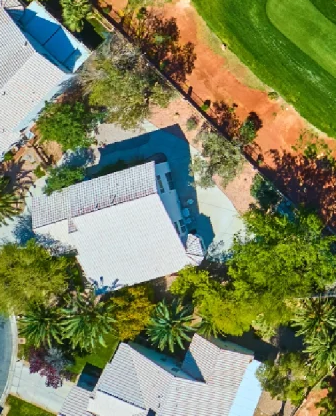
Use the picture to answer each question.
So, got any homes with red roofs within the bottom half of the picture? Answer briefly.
No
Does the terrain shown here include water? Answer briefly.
No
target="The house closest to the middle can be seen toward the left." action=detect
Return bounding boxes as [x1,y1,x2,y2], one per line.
[31,160,208,292]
